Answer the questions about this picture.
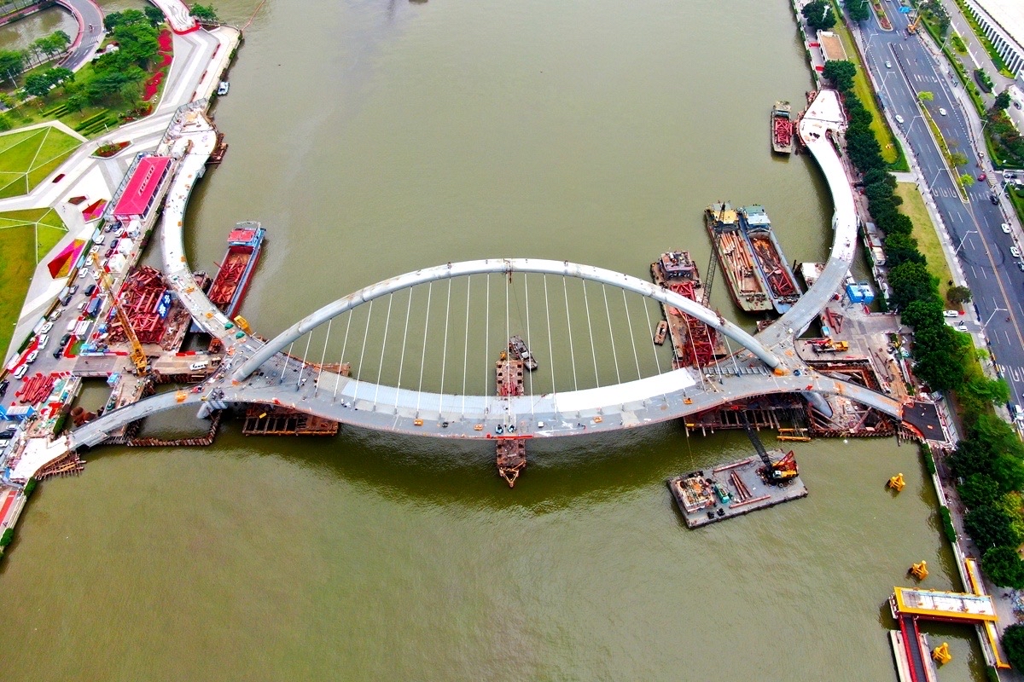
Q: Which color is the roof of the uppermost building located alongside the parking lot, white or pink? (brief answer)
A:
pink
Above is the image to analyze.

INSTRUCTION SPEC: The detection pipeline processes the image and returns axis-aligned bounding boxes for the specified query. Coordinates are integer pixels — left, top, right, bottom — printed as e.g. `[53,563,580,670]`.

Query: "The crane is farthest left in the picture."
[92,250,151,375]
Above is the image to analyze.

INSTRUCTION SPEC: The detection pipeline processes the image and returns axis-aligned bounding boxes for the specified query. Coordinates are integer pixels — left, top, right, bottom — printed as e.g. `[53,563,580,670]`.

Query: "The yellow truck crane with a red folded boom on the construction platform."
[804,336,850,355]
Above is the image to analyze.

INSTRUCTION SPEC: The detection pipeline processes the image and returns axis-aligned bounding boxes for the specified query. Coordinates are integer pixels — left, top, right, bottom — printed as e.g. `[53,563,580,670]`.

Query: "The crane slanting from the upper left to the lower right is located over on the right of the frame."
[722,409,797,491]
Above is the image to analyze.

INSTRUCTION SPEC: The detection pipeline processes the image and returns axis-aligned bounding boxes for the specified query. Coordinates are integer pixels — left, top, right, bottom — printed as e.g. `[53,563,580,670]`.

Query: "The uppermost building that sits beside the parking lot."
[112,157,176,224]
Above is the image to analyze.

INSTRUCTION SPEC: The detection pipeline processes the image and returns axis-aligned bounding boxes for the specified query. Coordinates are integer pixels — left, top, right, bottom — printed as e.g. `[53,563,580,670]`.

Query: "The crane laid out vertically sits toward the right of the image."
[694,202,727,321]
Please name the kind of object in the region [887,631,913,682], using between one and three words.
pier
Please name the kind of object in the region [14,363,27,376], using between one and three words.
vehicle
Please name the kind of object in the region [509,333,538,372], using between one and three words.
boat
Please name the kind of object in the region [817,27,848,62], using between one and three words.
building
